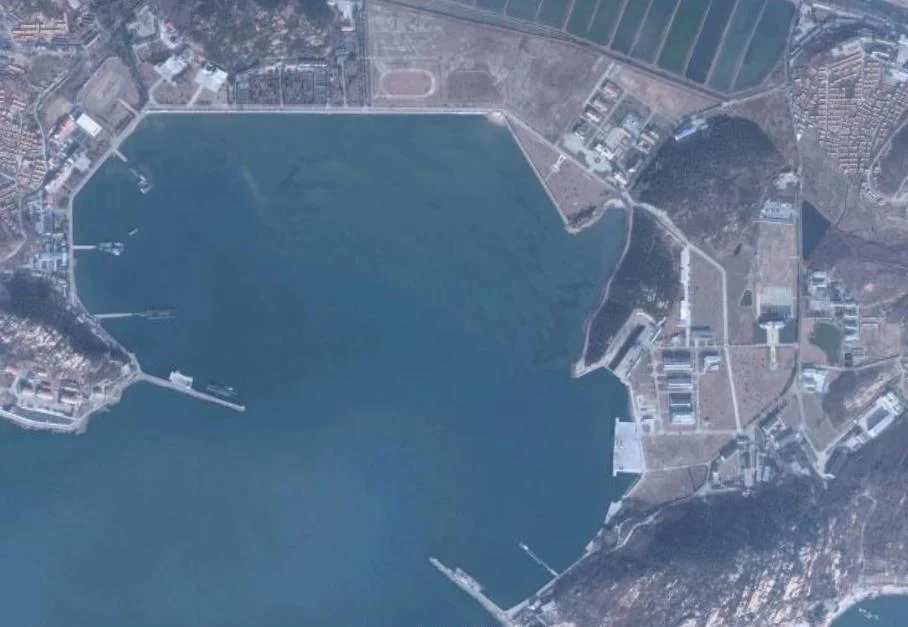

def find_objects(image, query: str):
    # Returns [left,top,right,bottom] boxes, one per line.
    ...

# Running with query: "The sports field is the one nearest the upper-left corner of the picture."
[89,58,130,106]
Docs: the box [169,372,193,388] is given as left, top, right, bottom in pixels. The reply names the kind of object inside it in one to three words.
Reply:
ship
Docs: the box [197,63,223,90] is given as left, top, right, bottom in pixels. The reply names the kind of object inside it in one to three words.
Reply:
building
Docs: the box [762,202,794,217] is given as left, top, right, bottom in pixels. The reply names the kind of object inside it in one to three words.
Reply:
building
